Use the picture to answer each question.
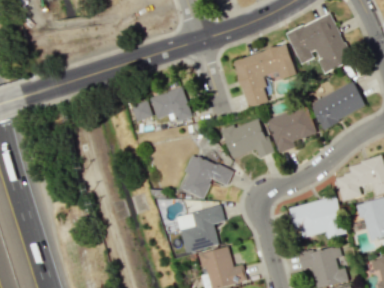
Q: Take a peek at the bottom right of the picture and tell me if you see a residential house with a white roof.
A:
Yes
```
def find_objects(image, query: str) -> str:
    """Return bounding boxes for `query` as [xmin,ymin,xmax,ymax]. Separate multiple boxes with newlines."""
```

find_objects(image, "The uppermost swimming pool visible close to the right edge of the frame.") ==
[358,233,376,252]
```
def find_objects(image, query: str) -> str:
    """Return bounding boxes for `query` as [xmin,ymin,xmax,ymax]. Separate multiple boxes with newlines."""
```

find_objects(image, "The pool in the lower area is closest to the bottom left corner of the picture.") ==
[167,202,184,220]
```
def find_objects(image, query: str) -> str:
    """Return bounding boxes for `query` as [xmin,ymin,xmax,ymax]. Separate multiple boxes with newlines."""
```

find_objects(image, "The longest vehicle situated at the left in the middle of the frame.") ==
[2,144,18,182]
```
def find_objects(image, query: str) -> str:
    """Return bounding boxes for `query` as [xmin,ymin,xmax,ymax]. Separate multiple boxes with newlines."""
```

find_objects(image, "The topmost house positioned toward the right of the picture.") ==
[286,14,348,64]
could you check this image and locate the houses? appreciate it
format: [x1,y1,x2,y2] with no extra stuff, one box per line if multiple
[373,256,384,288]
[336,150,384,202]
[300,246,350,288]
[315,82,366,128]
[358,198,384,243]
[181,154,235,198]
[286,14,348,64]
[223,119,274,158]
[150,86,194,122]
[131,101,154,122]
[268,108,316,153]
[177,204,226,253]
[200,246,248,288]
[290,198,346,238]
[234,44,295,108]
